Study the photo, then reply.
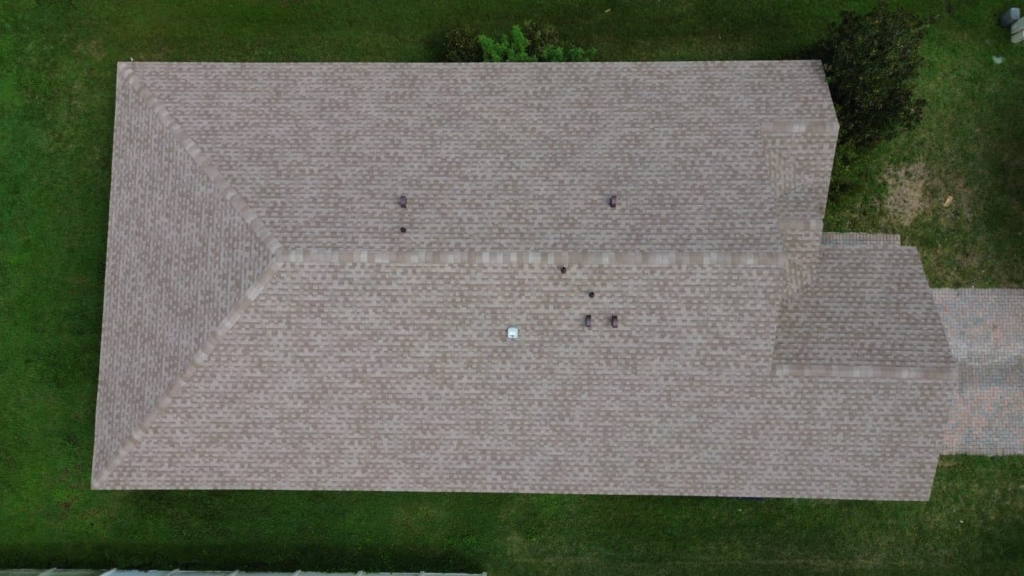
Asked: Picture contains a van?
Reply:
No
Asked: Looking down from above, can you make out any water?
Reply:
No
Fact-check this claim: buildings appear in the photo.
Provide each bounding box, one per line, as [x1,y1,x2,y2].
[90,58,959,501]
